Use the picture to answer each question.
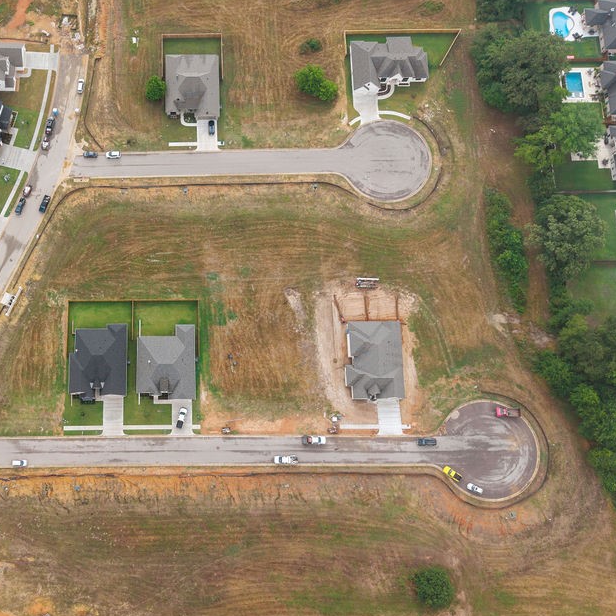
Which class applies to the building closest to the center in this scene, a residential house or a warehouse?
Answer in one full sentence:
The building closest to the center can be classified as a residential house.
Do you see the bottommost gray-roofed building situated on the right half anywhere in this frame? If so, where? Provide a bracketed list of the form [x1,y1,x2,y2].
[345,321,404,398]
